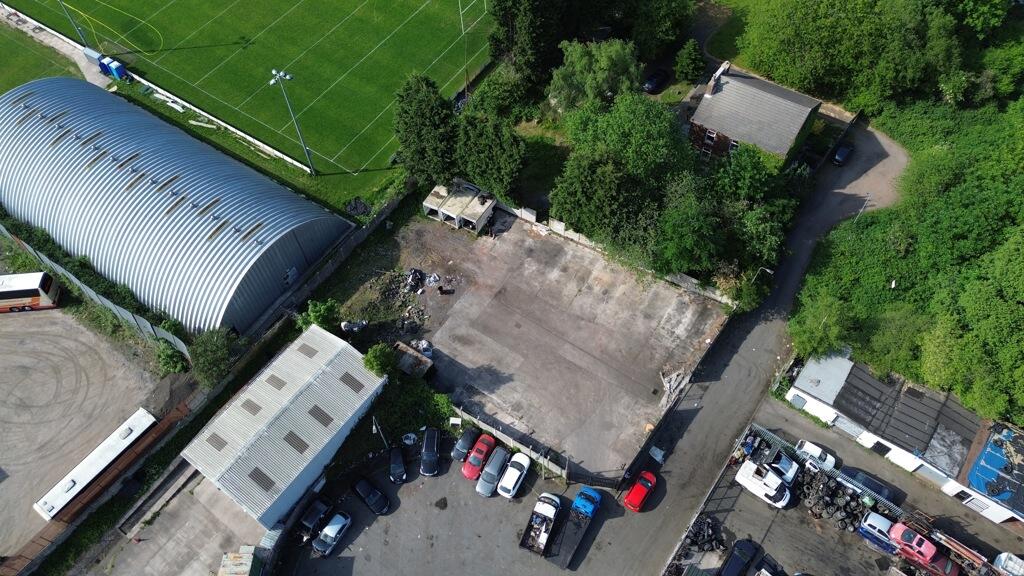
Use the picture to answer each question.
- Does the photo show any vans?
Yes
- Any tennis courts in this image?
No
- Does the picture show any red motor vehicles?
Yes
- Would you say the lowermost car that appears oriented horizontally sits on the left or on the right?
right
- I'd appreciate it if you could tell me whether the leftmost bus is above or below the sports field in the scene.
below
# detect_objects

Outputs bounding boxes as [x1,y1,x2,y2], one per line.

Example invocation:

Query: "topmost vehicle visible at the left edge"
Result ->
[0,272,56,307]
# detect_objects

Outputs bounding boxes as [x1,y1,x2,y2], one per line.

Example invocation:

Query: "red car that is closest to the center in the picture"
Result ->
[464,435,494,478]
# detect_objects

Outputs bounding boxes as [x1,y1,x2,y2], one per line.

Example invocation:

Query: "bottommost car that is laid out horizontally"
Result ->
[914,556,963,576]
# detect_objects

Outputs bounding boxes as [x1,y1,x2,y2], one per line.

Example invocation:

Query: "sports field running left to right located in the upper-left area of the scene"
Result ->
[0,0,534,214]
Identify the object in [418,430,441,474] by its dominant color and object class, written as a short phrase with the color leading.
black car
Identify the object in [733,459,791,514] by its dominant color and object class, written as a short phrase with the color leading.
white van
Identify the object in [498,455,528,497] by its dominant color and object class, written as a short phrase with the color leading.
white car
